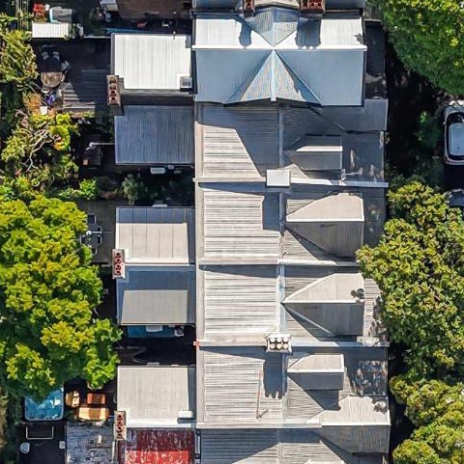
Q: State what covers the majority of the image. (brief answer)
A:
buildings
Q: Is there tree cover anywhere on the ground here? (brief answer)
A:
Yes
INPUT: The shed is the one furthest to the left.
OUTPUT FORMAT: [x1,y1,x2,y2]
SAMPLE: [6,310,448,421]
[32,21,70,42]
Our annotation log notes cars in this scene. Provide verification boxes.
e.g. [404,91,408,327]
[445,187,464,215]
[441,99,464,165]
